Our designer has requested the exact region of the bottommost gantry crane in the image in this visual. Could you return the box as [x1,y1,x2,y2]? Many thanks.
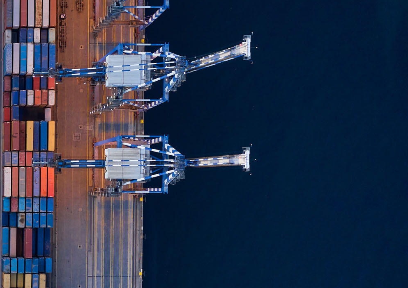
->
[31,132,252,204]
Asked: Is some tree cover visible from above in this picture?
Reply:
No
